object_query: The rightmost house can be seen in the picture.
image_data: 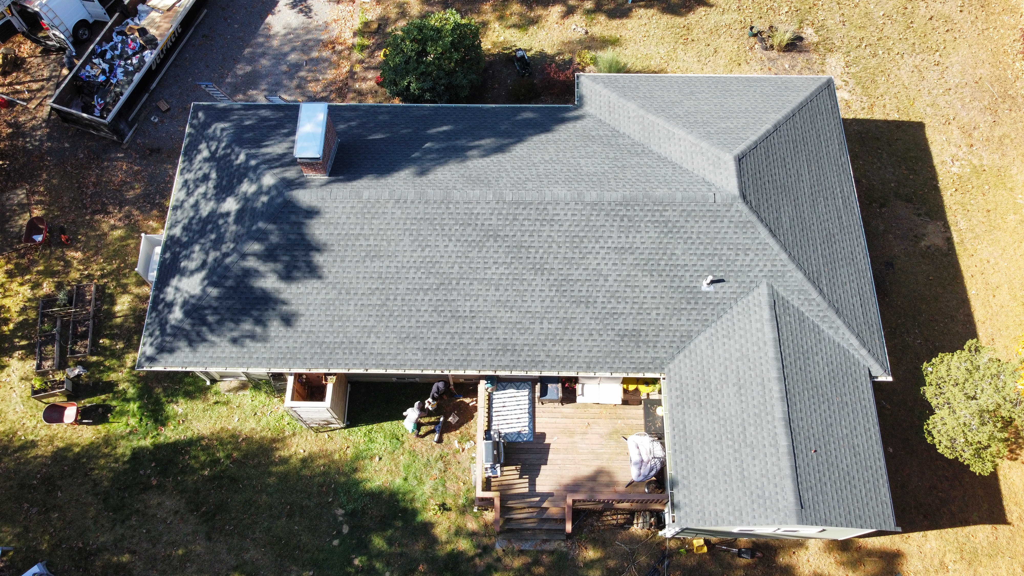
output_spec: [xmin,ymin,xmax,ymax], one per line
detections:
[136,71,905,542]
